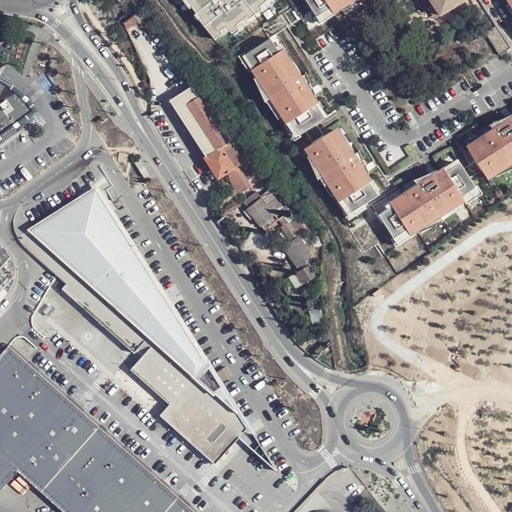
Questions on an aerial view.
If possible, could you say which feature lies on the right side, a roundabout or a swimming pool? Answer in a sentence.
There is a roundabout on the right side.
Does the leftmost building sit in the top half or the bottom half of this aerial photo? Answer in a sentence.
You can find the leftmost building in the top half.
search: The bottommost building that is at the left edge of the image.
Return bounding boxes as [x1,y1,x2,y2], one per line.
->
[0,345,196,512]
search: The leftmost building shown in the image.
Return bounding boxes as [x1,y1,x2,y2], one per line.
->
[0,77,37,144]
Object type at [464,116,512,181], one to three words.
house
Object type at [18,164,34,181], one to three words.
vehicle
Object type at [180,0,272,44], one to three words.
building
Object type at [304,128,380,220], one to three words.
house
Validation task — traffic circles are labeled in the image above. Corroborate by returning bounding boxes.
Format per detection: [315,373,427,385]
[328,377,414,463]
